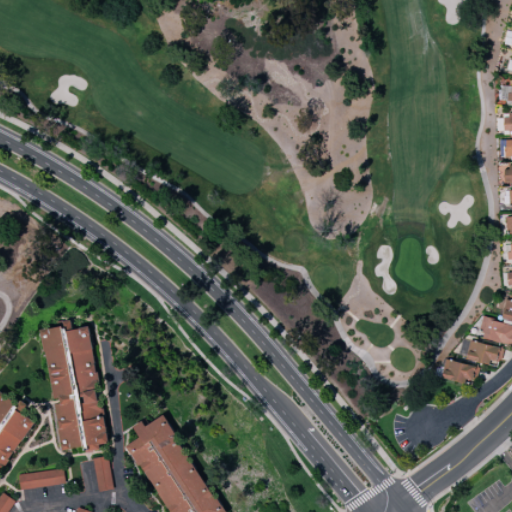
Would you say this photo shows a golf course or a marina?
golf course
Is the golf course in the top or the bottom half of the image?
top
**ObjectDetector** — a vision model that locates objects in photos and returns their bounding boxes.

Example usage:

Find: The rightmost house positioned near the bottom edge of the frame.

[128,416,224,512]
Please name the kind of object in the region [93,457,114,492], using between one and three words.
building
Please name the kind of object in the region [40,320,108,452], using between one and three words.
house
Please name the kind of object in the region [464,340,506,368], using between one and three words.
house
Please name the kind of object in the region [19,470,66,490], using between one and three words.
building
